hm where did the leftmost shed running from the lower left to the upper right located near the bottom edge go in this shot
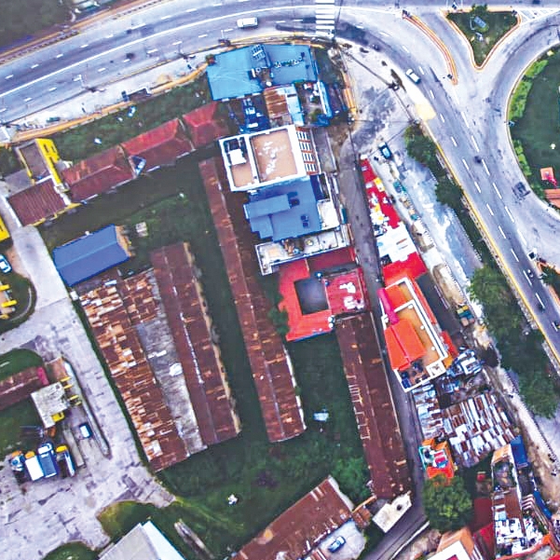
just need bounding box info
[231,475,355,560]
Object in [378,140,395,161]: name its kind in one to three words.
vehicle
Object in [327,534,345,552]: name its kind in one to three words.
car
